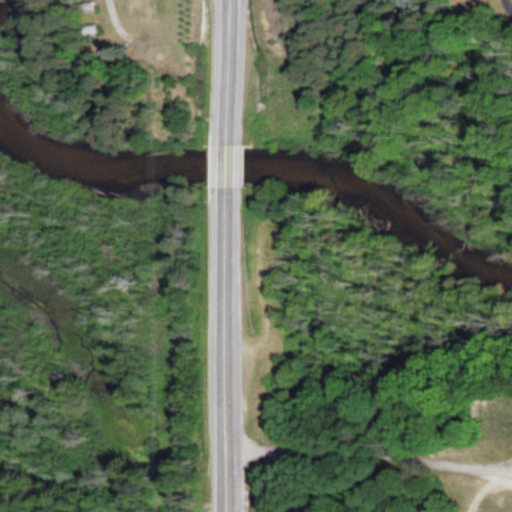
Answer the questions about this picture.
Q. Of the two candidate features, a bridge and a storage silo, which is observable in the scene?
bridge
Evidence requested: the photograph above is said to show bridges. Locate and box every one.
[206,142,252,190]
